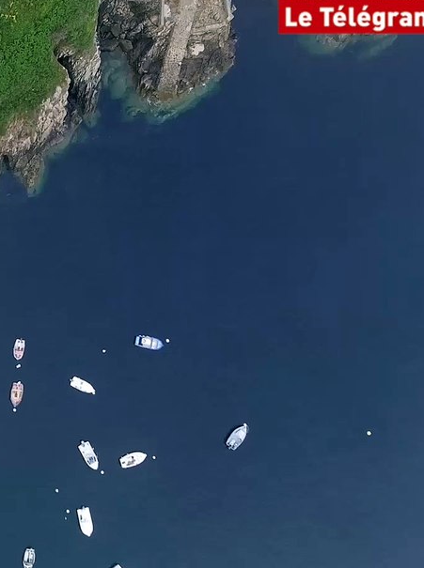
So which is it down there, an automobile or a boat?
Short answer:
boat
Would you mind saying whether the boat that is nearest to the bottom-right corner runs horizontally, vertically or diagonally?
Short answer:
diagonally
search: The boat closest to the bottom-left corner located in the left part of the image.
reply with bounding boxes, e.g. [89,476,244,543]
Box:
[23,549,36,568]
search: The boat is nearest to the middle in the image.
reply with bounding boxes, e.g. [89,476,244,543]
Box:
[136,334,166,351]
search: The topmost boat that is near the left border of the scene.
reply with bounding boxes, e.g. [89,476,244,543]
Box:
[14,338,27,360]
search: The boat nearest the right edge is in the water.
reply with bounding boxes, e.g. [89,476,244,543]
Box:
[227,425,249,451]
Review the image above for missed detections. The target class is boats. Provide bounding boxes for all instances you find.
[227,425,249,451]
[14,338,27,360]
[78,507,94,539]
[80,441,101,472]
[136,334,166,351]
[70,376,96,395]
[11,381,25,408]
[121,452,149,468]
[23,549,36,568]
